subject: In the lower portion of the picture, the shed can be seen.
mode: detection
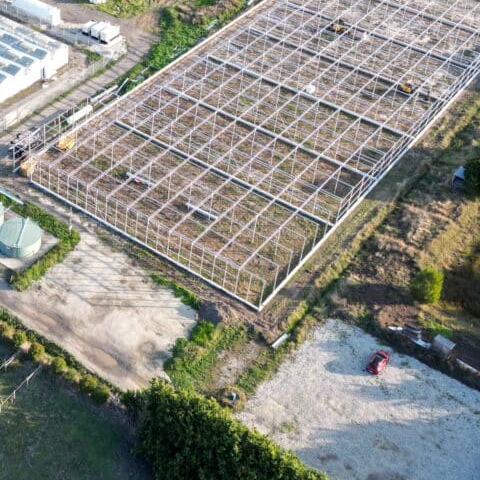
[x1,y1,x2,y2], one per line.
[432,334,459,362]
